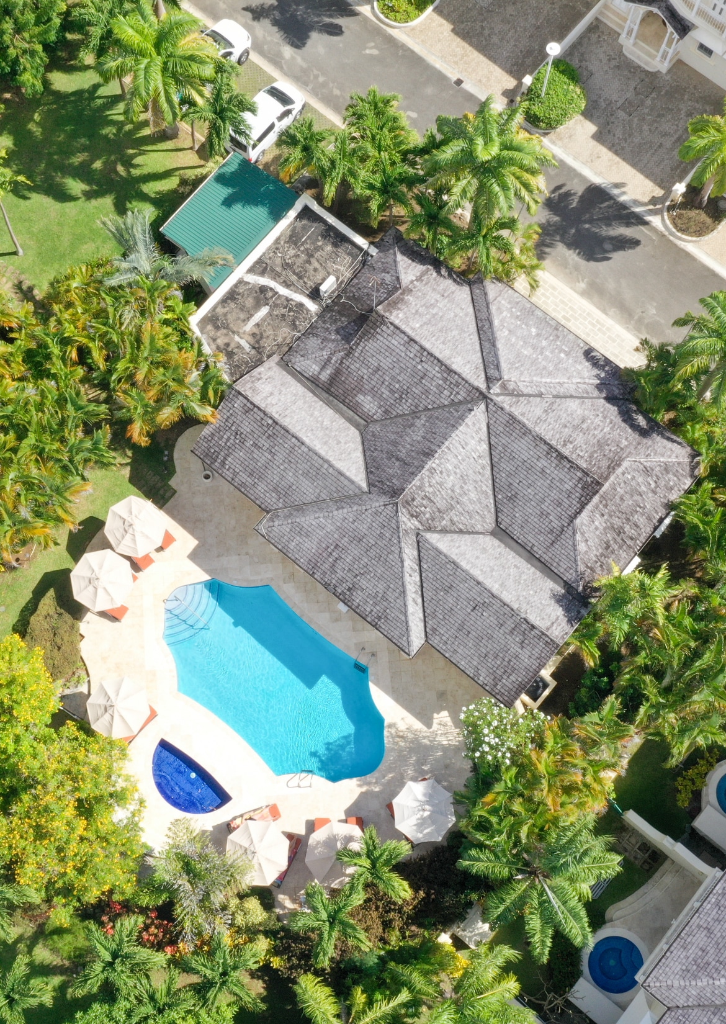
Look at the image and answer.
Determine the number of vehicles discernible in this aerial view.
2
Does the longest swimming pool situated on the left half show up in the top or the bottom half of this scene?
bottom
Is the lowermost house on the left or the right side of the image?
right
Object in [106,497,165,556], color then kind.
white umbrella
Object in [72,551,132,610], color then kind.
white umbrella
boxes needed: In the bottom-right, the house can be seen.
[596,841,726,1024]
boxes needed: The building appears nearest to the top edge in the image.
[589,0,726,91]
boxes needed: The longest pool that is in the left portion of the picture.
[155,571,392,792]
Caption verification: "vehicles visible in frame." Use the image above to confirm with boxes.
[227,79,304,155]
[177,20,250,92]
